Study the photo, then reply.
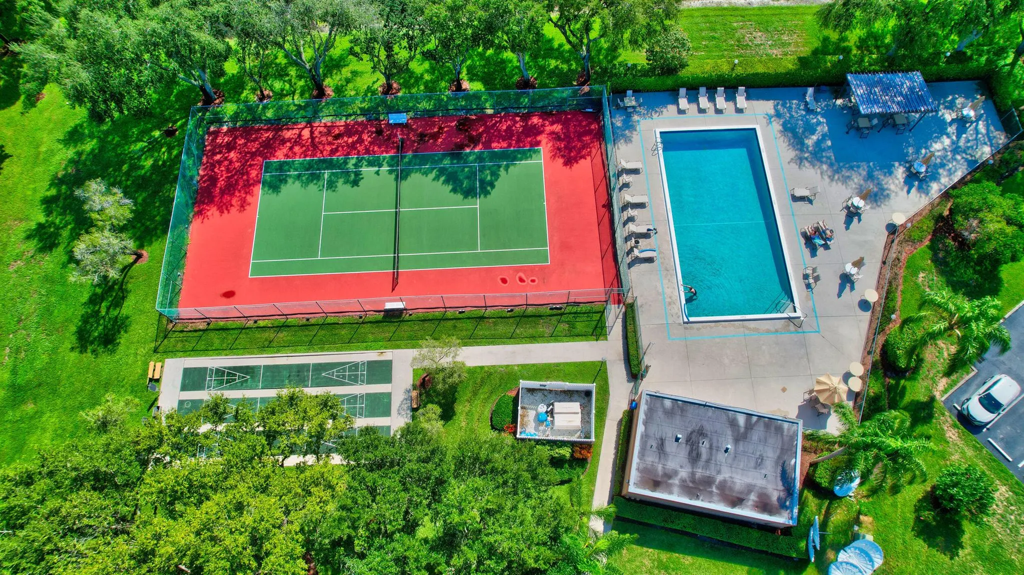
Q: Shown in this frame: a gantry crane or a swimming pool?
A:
swimming pool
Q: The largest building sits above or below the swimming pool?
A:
below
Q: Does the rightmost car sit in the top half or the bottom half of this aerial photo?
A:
bottom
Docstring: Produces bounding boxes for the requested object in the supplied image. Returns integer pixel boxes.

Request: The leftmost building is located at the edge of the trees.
[624,390,802,528]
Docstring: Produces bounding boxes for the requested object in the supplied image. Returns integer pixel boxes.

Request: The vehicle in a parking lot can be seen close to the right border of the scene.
[960,378,1024,428]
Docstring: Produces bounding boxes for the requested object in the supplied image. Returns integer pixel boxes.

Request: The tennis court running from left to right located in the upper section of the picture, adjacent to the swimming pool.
[175,108,622,323]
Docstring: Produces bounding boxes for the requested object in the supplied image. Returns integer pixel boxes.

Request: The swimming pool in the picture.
[655,124,801,321]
